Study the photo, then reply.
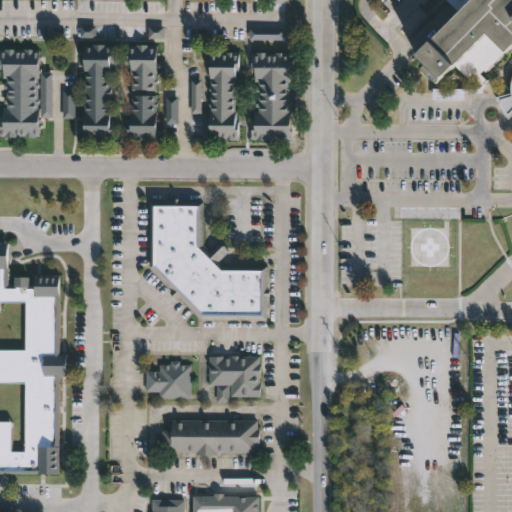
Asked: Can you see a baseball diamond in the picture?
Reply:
No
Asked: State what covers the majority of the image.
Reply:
paved ground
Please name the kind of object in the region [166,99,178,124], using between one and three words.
building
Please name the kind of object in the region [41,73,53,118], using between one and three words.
building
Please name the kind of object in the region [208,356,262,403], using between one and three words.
house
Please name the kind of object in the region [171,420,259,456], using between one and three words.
house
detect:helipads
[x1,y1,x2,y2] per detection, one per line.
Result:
[410,228,450,267]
